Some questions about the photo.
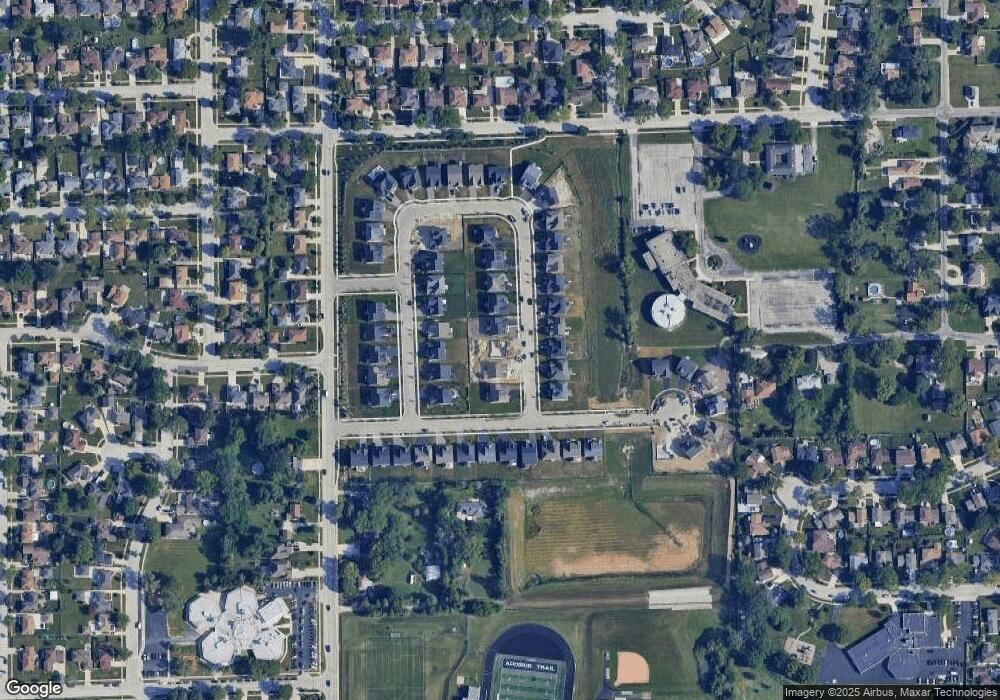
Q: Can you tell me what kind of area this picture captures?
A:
residential area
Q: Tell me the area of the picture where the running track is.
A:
bottom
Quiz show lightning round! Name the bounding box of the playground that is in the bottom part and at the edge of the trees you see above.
[785,638,814,665]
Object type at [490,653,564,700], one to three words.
sports field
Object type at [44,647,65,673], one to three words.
house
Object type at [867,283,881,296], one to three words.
swimming pool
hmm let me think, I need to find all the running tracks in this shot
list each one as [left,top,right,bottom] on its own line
[479,620,576,700]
